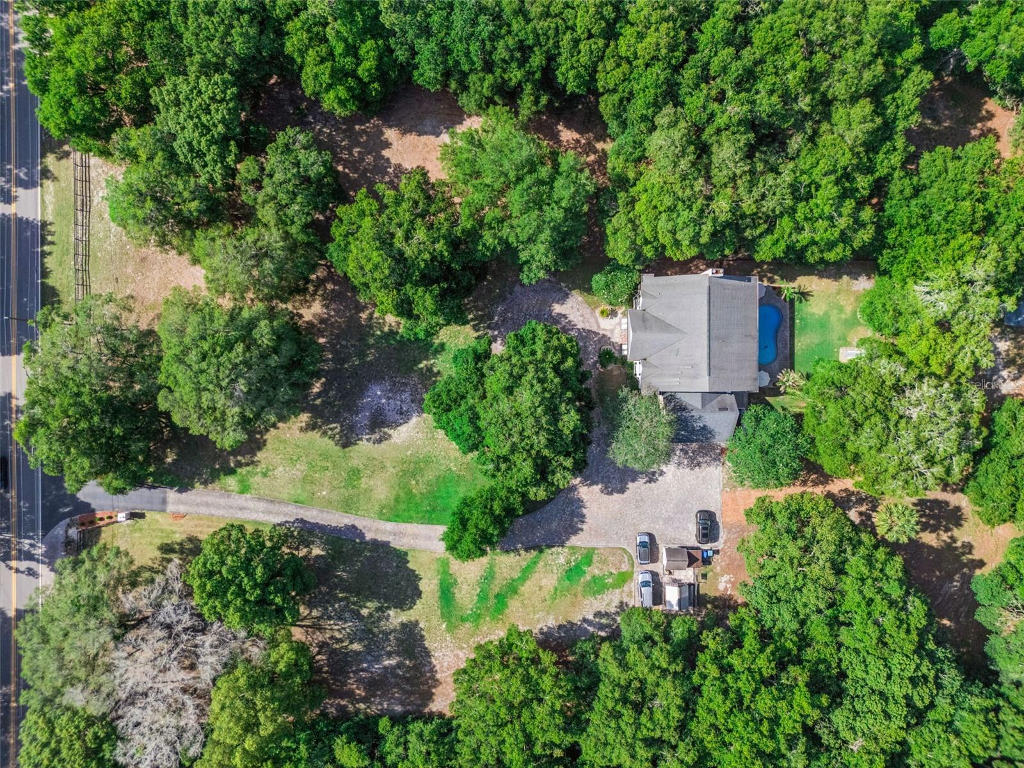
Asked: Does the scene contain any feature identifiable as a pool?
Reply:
Yes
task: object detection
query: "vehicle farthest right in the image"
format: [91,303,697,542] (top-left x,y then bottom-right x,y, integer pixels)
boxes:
[694,509,711,542]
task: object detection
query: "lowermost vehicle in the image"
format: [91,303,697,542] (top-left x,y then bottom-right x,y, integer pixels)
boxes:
[637,570,653,608]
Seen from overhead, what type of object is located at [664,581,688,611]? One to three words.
shed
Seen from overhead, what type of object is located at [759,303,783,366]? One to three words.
swimming pool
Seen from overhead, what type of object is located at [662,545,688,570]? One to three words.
shed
